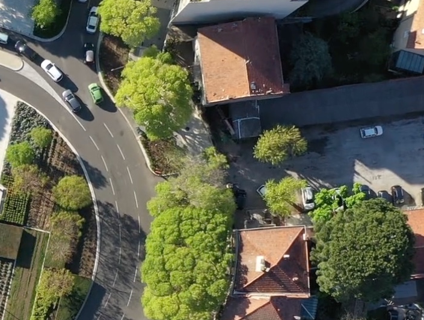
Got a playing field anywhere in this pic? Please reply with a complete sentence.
No, no playing field is visible in the scene.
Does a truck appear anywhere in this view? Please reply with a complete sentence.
No, no truck is visible in the scene.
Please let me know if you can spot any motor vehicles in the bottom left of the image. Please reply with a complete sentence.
No, no motor vehicle appears in the bottom left of the image.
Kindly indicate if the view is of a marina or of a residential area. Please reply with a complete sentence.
What you see here is a residential area.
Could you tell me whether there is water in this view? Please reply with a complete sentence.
No, the scene doesn't show any water.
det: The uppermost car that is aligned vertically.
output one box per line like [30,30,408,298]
[85,7,99,32]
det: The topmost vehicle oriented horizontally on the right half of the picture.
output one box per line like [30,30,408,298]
[357,124,383,137]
